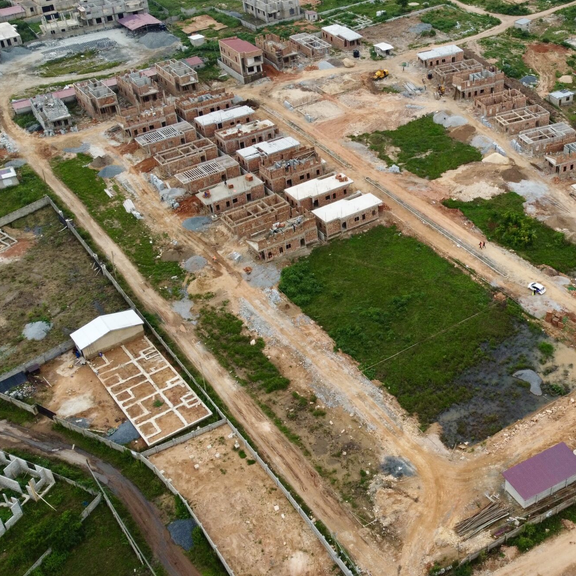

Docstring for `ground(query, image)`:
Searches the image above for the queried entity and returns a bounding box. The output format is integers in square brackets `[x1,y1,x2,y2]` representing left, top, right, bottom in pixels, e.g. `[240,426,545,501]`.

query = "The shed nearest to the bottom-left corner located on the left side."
[70,310,145,363]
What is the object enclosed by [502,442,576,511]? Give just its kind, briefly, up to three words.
shed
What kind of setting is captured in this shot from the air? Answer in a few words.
residential area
